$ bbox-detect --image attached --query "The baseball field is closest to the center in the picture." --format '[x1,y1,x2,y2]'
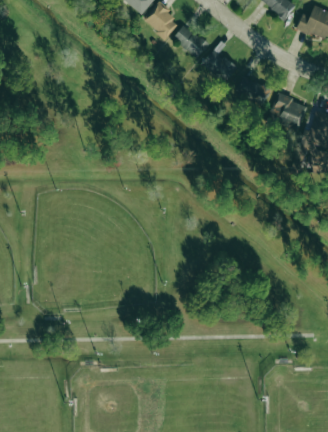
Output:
[34,189,156,314]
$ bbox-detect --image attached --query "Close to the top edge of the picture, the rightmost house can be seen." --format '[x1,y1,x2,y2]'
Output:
[297,5,328,44]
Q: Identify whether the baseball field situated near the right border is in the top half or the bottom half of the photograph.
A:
bottom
